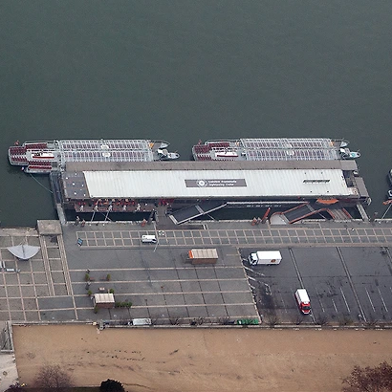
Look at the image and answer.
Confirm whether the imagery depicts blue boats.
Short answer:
No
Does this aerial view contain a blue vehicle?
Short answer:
No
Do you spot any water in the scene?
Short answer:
Yes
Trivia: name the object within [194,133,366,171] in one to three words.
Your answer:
boat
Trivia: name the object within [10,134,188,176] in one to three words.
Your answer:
boat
